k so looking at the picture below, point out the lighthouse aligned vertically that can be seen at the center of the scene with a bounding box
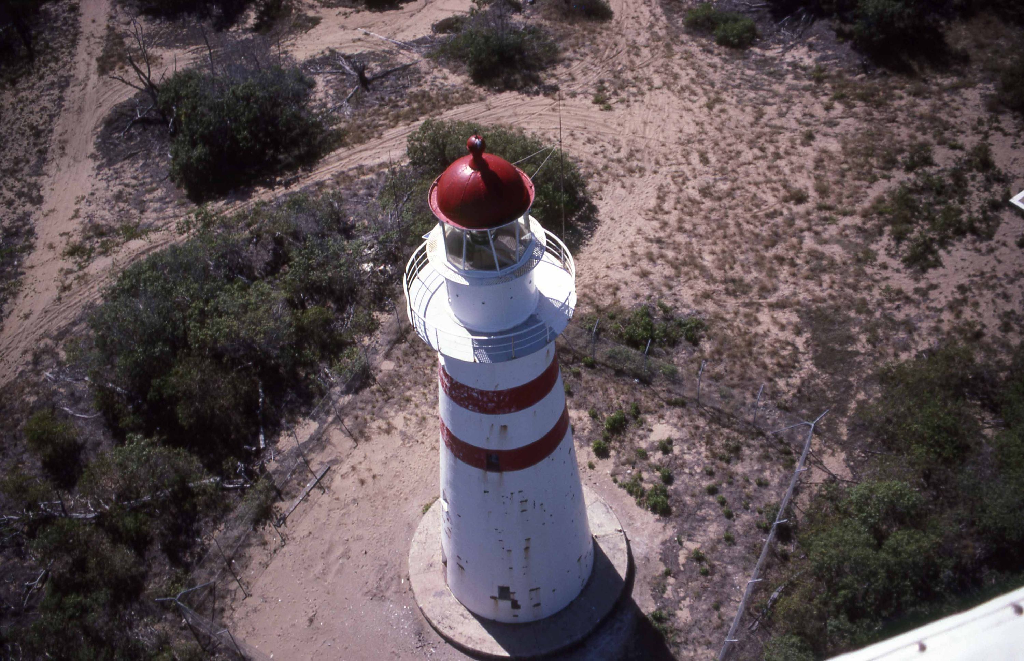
[400,123,627,661]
